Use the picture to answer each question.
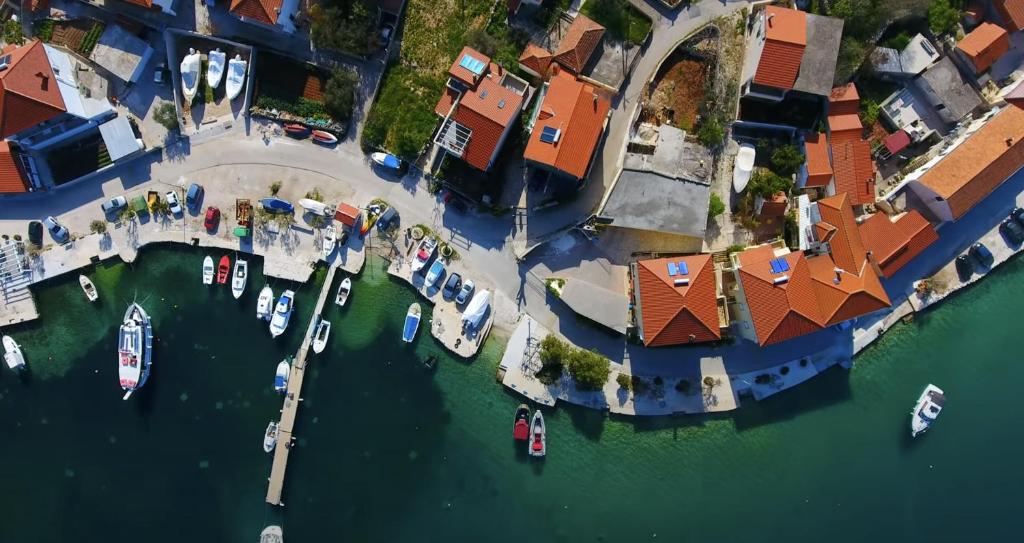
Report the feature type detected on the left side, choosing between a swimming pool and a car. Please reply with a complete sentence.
The one visible on the left side is a car.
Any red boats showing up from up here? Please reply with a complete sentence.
Yes, the photo shows a red boat.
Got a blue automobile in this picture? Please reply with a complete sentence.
Yes, this view includes a blue automobile.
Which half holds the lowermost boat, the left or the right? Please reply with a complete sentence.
The lowermost boat is on the left side of the image.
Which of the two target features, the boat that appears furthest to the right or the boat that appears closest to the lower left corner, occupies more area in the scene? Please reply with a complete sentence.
The boat that appears furthest to the right is bigger than the boat that appears closest to the lower left corner.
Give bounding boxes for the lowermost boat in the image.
[260,504,284,543]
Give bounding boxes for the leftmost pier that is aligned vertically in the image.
[266,264,338,505]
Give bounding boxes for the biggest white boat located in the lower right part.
[910,383,948,438]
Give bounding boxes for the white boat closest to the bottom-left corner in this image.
[1,335,26,372]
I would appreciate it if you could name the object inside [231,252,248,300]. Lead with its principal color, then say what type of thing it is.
white boat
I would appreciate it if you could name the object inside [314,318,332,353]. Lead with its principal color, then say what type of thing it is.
white boat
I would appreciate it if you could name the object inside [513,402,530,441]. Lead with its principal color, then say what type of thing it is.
red boat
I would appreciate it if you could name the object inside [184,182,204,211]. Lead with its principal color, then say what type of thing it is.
blue car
